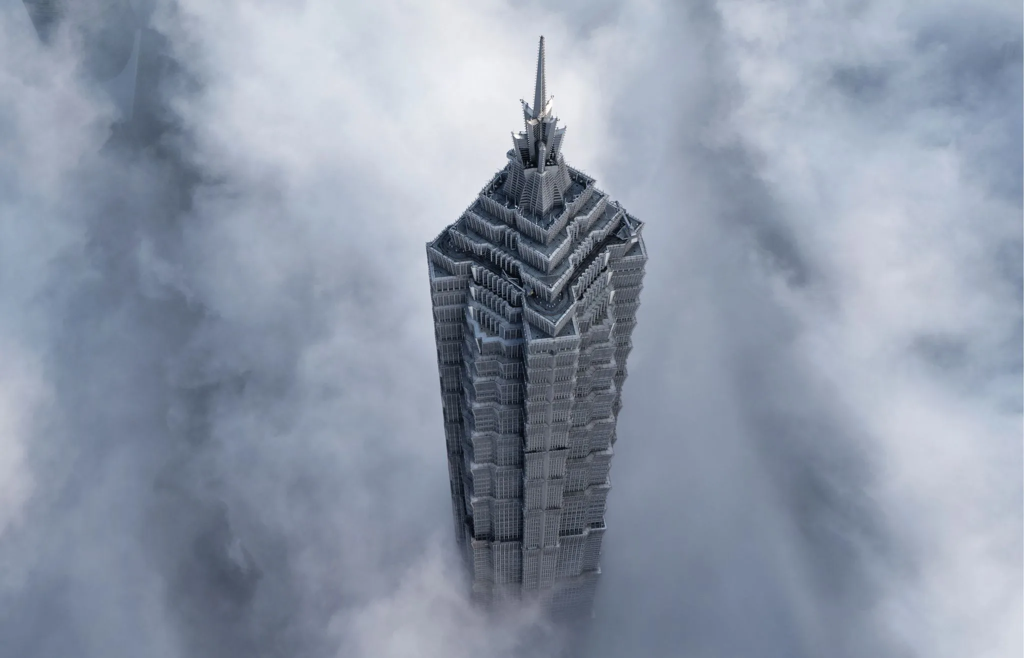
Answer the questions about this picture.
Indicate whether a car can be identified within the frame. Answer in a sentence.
No, there isn't any car down there.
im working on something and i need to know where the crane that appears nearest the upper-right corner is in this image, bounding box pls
[612,187,644,247]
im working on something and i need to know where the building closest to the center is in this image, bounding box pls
[427,33,649,658]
